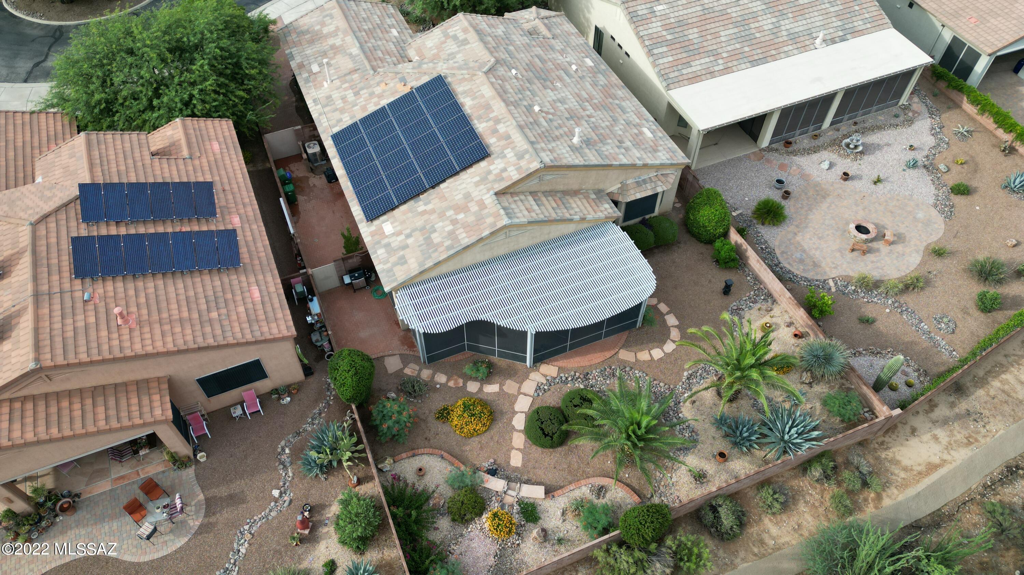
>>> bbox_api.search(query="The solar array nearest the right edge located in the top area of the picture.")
[308,73,488,222]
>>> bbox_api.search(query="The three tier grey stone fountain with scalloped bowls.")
[843,130,865,153]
